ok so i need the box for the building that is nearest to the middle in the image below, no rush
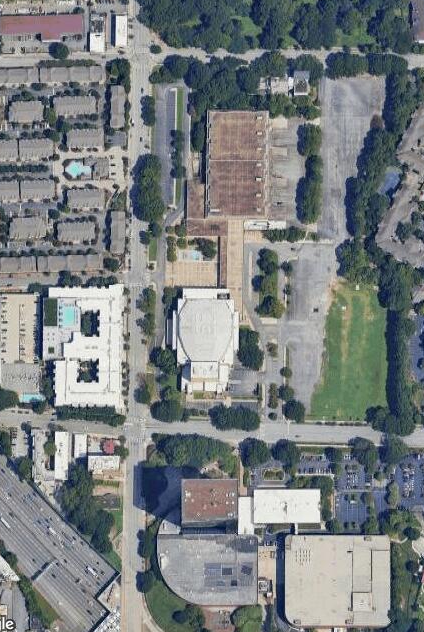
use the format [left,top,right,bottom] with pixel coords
[174,288,239,395]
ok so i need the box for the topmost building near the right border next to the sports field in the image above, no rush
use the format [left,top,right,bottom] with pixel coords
[375,174,424,272]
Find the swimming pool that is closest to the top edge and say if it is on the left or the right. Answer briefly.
left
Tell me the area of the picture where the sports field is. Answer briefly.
right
